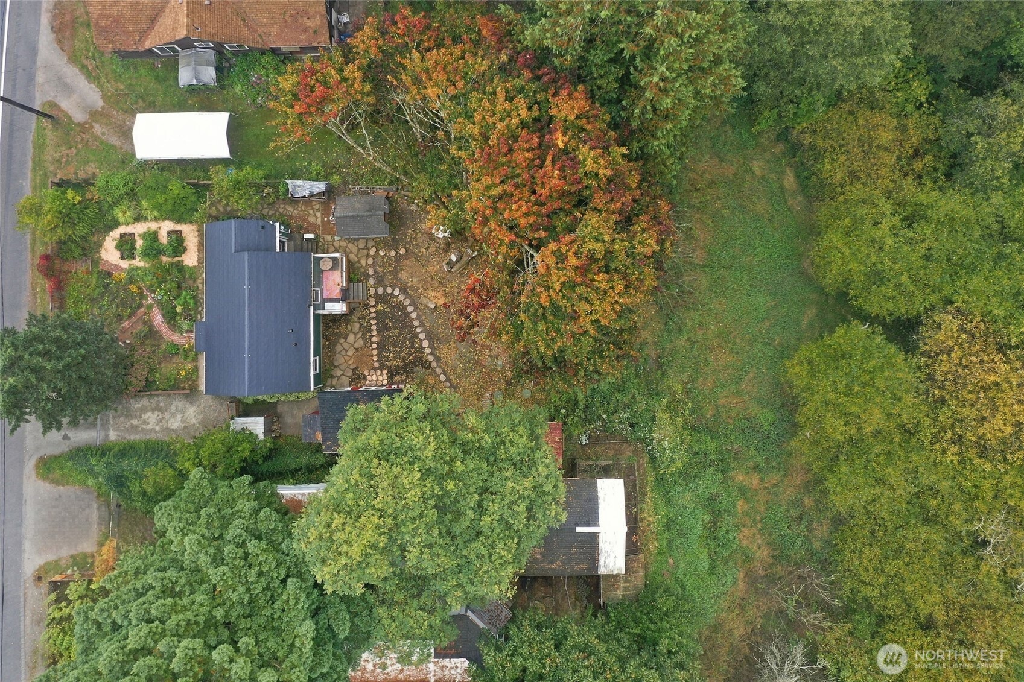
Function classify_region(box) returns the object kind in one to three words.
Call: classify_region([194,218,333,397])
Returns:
house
